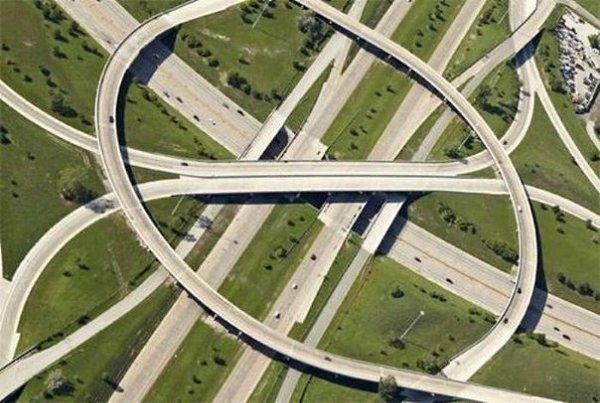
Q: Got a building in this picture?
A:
No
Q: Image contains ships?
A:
No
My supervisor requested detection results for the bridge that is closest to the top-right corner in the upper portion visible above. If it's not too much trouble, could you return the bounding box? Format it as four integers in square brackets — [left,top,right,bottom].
[479,0,556,75]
